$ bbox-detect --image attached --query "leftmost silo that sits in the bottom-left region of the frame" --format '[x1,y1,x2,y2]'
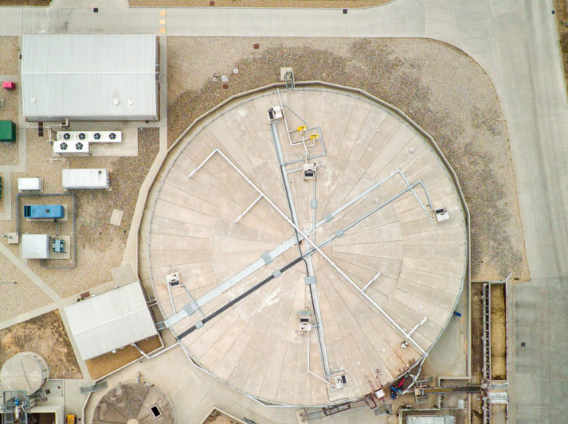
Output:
[0,348,53,401]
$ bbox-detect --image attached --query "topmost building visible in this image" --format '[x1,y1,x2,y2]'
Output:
[20,35,159,122]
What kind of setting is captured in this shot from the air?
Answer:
industrial area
